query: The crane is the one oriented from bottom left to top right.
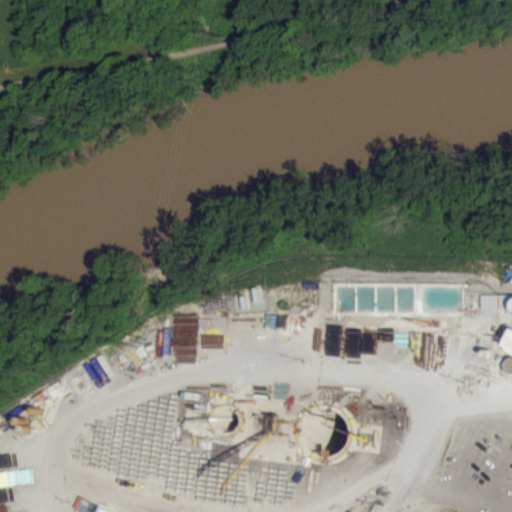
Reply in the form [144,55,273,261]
[218,412,293,500]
